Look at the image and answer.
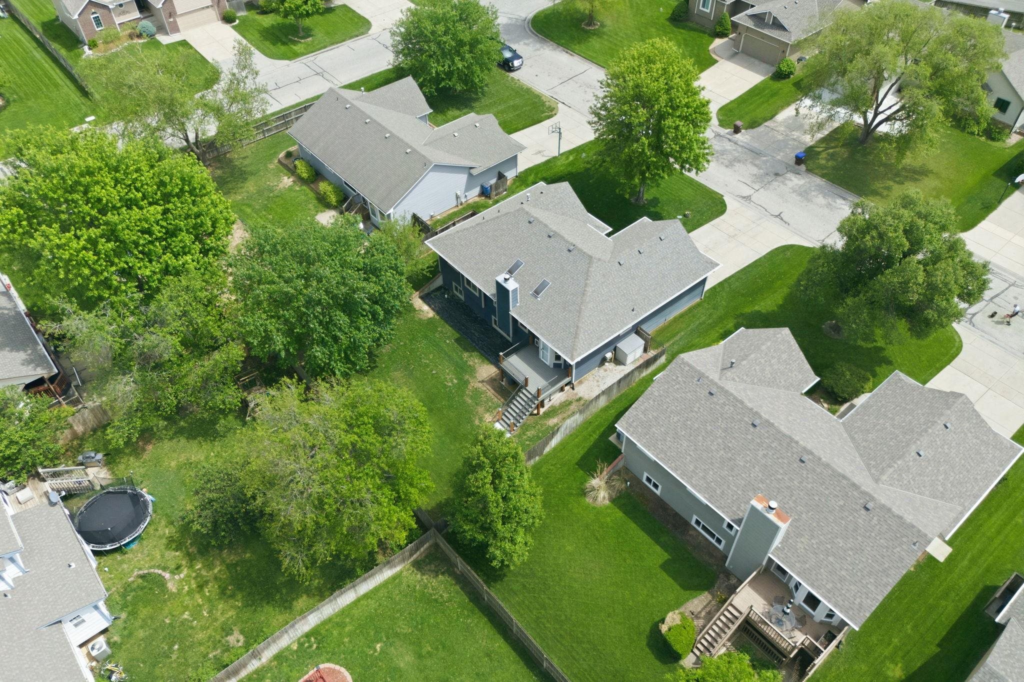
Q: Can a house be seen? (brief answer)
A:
Yes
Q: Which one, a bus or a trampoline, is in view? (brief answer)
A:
trampoline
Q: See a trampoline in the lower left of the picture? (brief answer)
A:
Yes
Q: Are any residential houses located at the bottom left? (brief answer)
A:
Yes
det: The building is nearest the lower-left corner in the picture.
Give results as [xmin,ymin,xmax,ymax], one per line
[0,479,128,682]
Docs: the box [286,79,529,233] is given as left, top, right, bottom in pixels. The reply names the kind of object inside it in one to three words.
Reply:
house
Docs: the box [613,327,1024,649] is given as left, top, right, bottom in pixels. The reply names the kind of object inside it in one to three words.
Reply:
house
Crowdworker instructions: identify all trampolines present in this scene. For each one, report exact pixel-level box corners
[78,475,158,556]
